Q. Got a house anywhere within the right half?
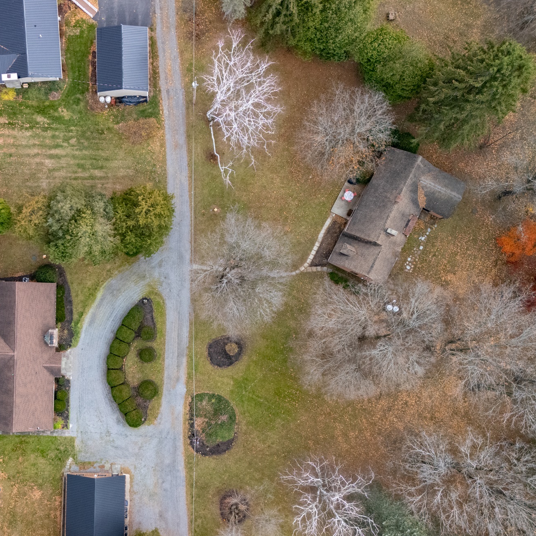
Yes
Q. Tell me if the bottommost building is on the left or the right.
left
